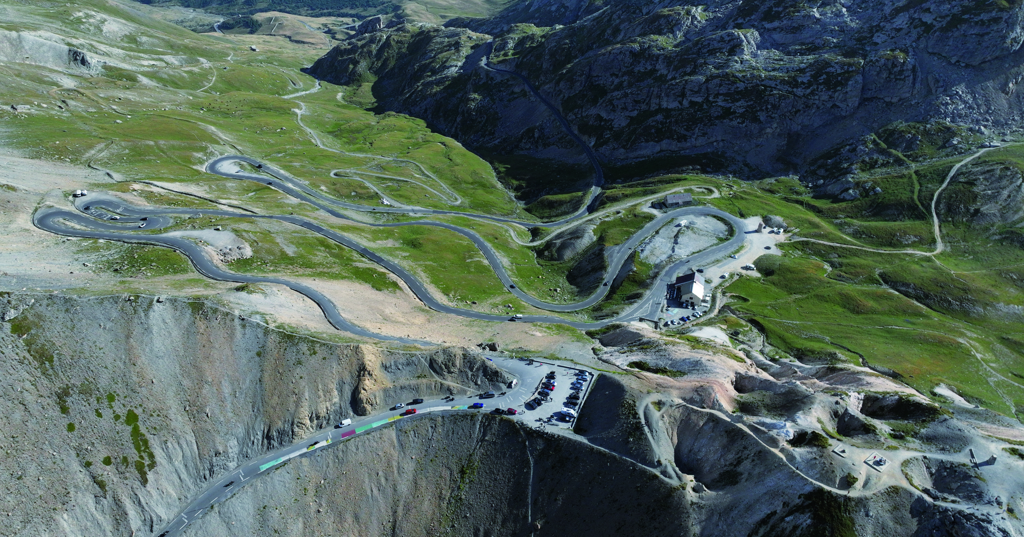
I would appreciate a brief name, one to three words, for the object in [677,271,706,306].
building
